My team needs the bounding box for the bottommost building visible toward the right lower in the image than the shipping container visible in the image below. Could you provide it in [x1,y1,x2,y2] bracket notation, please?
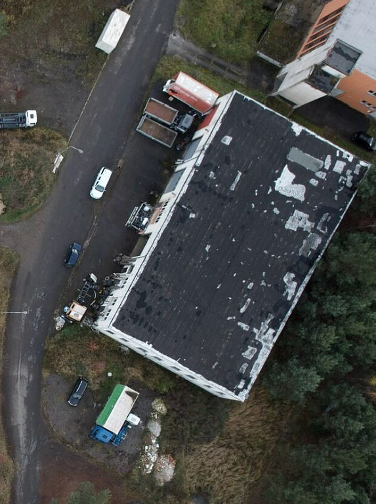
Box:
[95,92,370,399]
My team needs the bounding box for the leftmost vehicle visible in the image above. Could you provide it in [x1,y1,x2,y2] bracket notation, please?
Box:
[0,107,40,129]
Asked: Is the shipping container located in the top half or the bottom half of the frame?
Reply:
top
